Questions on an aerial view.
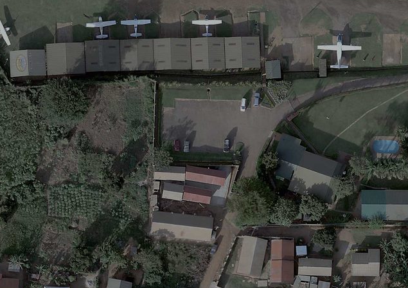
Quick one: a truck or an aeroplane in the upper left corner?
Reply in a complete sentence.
It is an aeroplane that can be seen in the upper left corner.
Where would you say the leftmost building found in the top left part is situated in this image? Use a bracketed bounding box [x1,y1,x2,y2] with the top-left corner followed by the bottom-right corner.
[9,50,45,78]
